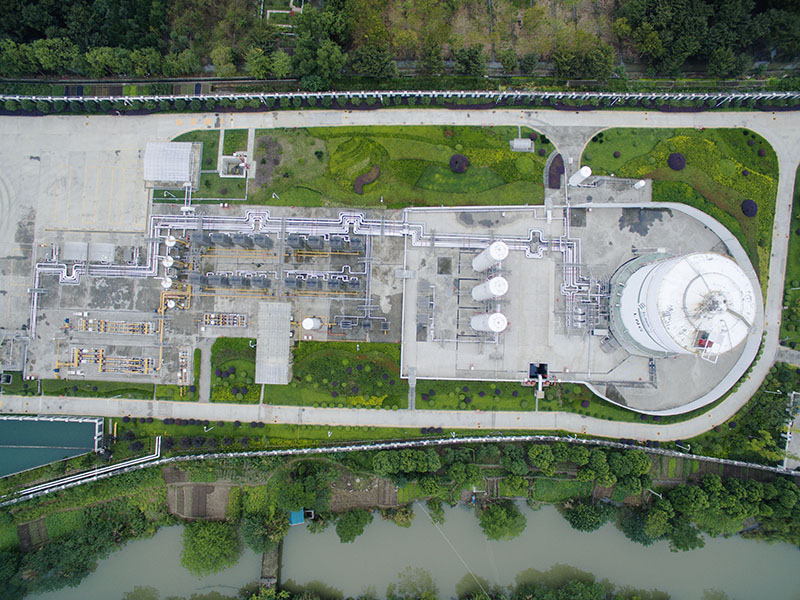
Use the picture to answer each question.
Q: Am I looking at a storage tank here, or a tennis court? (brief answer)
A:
storage tank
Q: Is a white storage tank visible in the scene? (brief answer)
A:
Yes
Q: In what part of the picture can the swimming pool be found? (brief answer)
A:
bottom left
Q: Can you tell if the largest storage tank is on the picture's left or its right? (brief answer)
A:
right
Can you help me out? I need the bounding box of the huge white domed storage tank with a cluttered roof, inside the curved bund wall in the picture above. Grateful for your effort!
[608,252,760,363]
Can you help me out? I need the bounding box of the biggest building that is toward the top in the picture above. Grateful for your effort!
[510,138,534,153]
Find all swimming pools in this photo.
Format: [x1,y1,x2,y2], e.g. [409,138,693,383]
[0,420,98,480]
